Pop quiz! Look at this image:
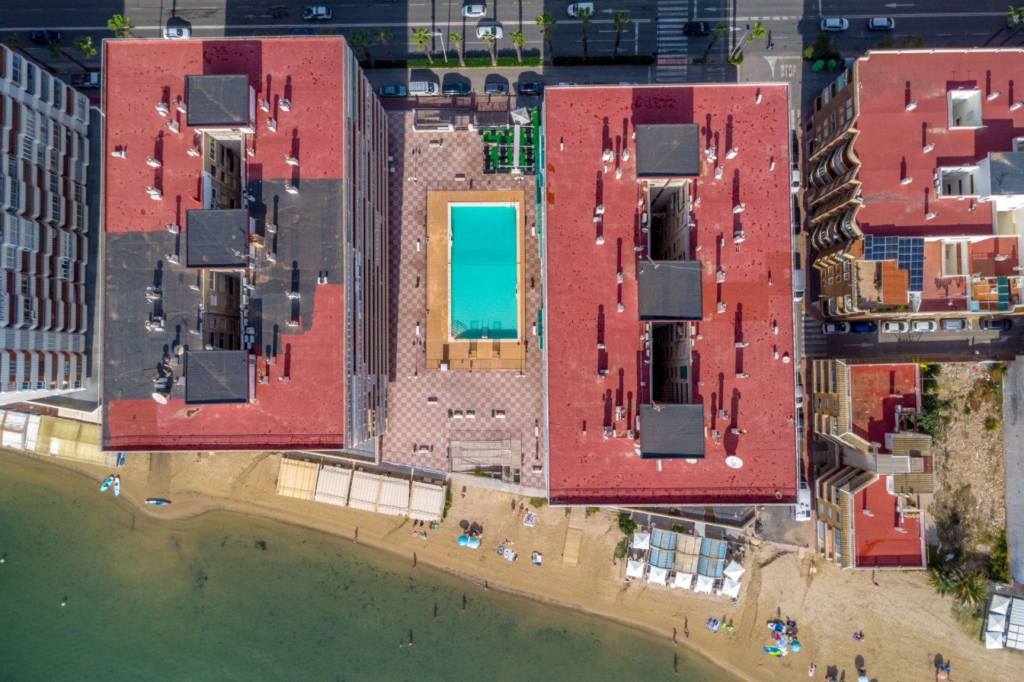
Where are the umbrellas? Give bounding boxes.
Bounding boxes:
[857,673,869,682]
[510,108,530,124]
[457,534,469,547]
[722,578,741,598]
[633,533,650,549]
[627,561,644,578]
[723,560,745,582]
[982,632,1002,649]
[985,615,1005,632]
[988,594,1010,614]
[468,536,480,548]
[790,641,801,652]
[696,575,713,592]
[675,573,692,589]
[648,568,666,583]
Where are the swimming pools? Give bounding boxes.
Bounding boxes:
[427,190,525,370]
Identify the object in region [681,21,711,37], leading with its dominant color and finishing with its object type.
black car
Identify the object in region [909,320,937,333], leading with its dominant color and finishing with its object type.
white vehicle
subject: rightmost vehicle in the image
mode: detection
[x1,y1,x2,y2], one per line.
[979,316,1010,331]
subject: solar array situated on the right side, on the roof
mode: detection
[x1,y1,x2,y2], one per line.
[859,238,923,292]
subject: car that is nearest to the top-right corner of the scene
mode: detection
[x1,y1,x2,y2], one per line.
[865,16,895,32]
